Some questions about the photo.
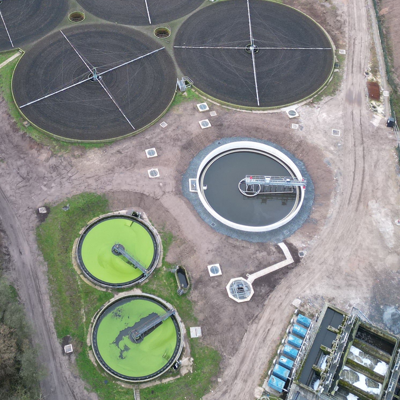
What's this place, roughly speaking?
industrial area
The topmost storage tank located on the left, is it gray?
No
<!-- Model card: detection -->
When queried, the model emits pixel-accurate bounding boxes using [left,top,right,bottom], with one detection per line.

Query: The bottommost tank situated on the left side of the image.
[91,291,188,385]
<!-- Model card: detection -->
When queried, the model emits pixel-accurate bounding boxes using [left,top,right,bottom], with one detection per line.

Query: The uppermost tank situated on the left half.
[76,214,163,293]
